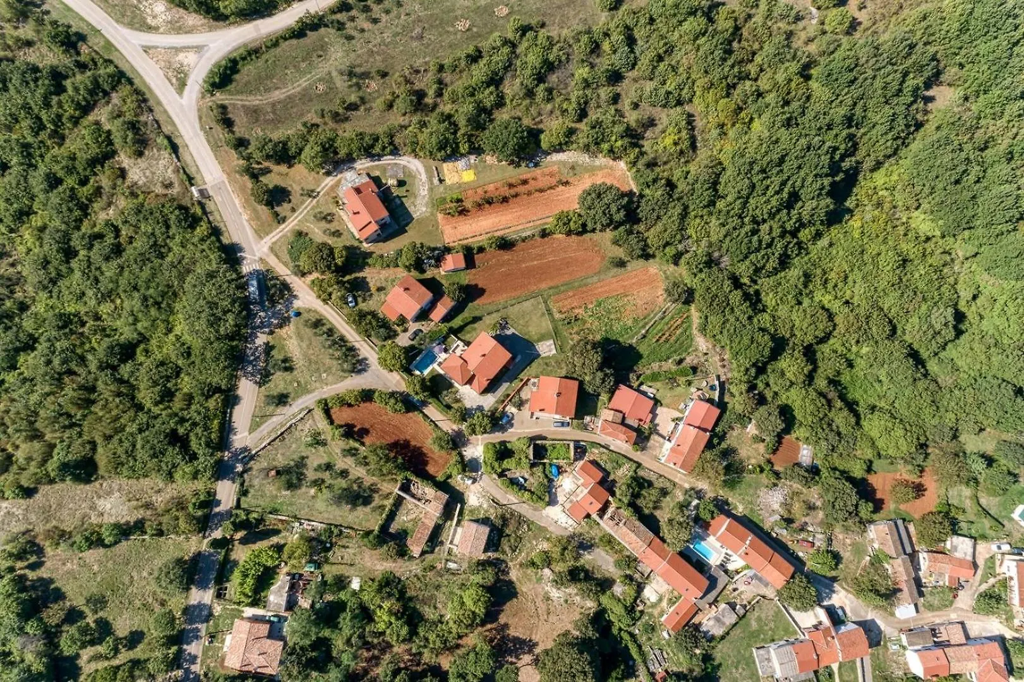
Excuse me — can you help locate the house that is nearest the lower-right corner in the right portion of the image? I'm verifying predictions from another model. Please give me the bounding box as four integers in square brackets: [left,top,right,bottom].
[964,635,1009,682]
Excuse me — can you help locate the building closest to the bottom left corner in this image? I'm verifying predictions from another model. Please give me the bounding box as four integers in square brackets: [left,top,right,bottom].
[223,615,288,675]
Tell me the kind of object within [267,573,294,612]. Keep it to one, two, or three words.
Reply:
barn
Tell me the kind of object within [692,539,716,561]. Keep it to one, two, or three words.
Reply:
swimming pool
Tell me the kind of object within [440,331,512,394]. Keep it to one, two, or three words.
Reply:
house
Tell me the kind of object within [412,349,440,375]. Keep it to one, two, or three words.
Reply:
swimming pool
